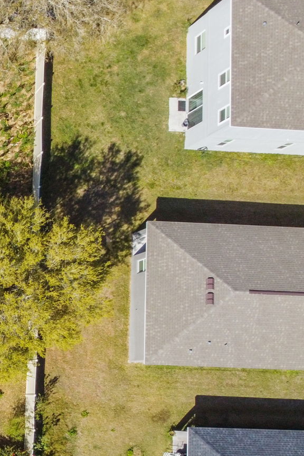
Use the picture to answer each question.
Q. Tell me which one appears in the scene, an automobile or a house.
house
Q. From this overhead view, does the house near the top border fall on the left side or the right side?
right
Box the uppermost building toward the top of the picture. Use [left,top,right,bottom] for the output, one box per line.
[189,0,304,149]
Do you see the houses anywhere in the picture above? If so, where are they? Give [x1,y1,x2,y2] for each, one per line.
[129,221,304,369]
[189,0,304,149]
[168,426,304,456]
